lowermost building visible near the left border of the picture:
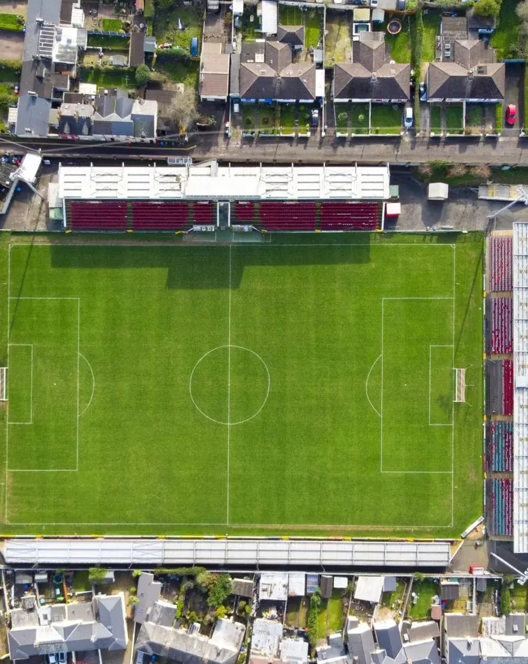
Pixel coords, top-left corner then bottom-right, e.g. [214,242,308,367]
[8,591,129,661]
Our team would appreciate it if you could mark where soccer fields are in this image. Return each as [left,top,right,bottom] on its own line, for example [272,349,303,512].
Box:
[0,231,485,538]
